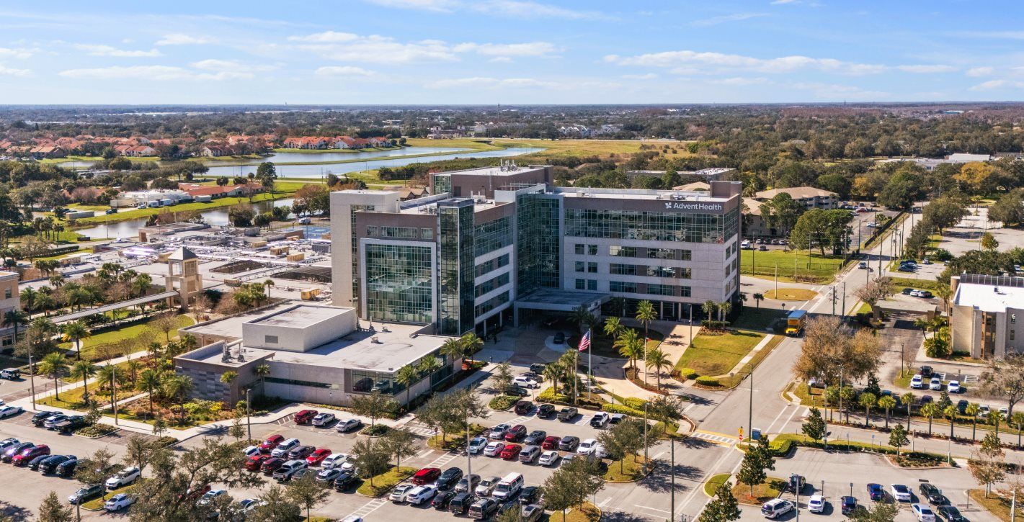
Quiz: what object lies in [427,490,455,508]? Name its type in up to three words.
car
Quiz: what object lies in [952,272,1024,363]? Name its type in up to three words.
building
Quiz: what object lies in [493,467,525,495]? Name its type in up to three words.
van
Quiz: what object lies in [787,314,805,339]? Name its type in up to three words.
vehicle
